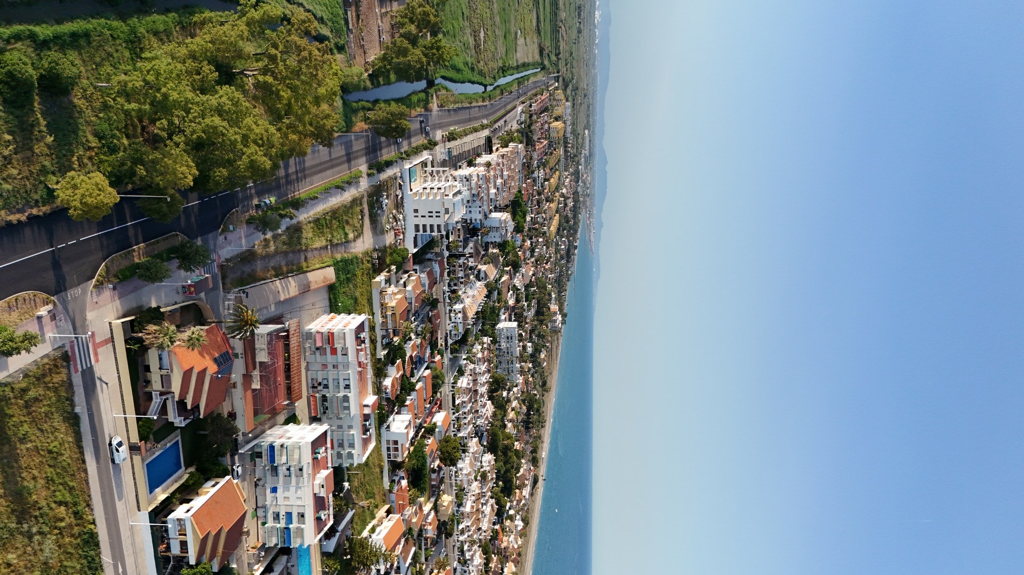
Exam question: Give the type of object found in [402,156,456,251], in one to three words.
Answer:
building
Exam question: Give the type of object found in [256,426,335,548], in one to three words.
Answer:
building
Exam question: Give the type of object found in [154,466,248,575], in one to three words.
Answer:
house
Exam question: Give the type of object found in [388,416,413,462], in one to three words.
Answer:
house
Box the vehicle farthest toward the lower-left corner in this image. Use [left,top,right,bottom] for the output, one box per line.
[110,436,128,466]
